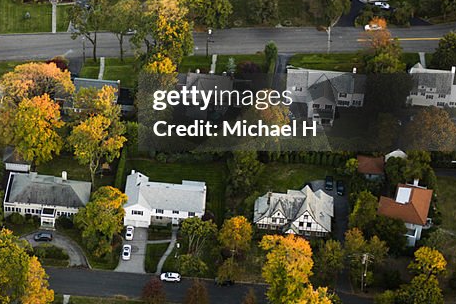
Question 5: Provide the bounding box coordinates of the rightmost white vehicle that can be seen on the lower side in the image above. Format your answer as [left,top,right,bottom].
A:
[160,270,181,282]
